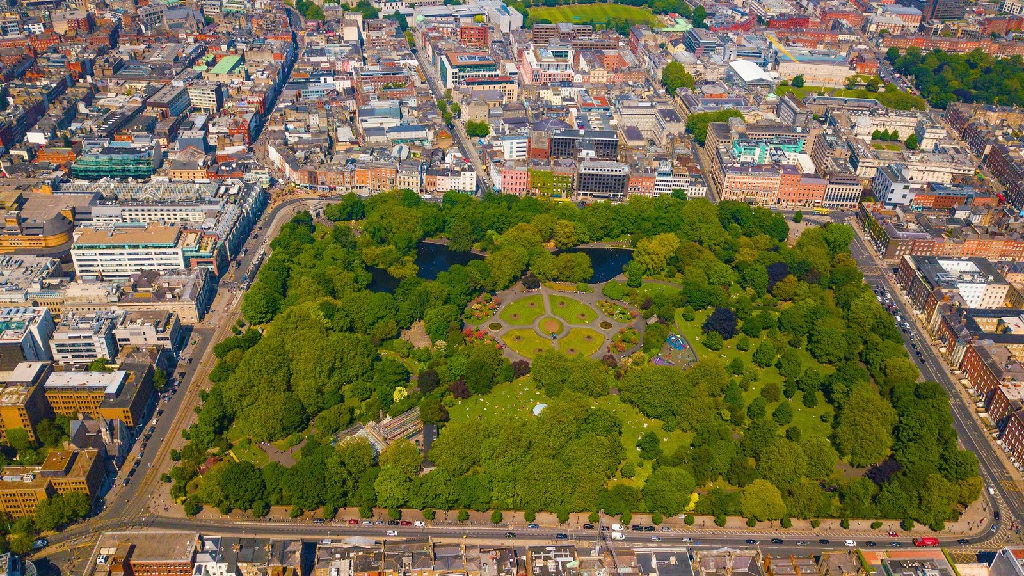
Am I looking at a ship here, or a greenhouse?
greenhouse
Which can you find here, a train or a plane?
train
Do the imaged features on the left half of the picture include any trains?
Yes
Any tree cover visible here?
Yes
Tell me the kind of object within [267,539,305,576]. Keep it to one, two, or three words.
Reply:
house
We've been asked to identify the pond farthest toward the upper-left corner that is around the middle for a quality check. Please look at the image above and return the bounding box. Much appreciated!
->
[371,241,487,292]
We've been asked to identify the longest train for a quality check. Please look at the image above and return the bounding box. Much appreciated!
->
[240,248,266,291]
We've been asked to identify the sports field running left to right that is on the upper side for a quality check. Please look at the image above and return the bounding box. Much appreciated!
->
[531,3,653,31]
